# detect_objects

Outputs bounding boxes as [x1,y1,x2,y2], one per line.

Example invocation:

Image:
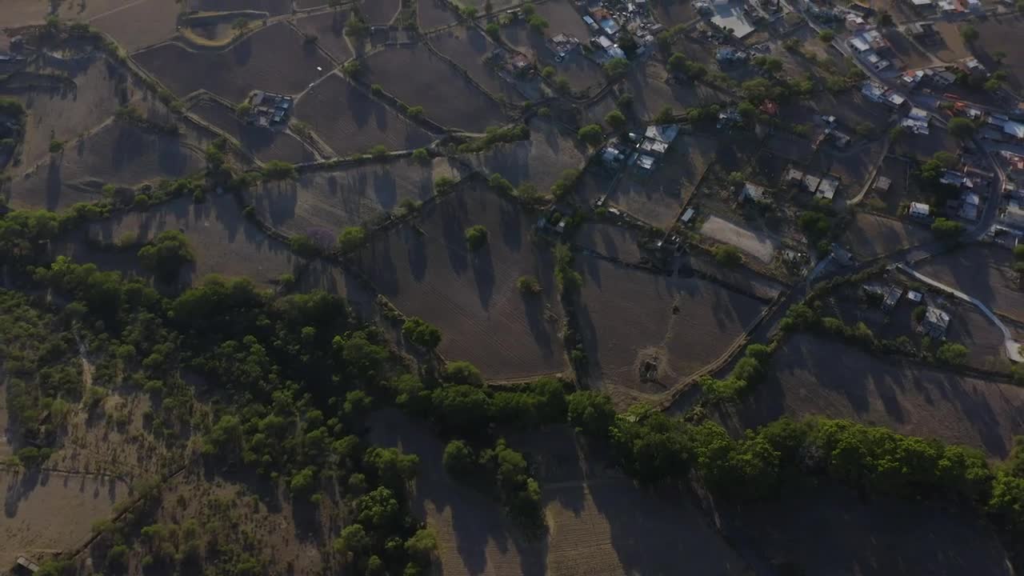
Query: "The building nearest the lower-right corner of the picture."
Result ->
[918,307,950,337]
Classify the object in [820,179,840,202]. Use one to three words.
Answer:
house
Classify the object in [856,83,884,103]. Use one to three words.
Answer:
house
